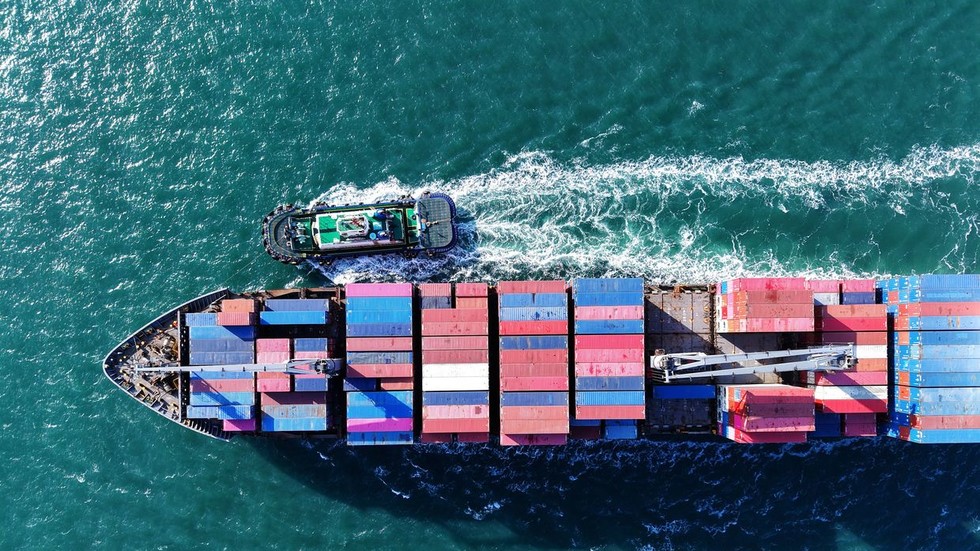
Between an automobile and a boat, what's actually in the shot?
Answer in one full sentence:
Of the two, only a boat appears.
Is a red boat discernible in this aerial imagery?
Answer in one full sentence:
No, I can see no red boat in this picture.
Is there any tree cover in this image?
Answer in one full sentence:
No, no tree cover is visible.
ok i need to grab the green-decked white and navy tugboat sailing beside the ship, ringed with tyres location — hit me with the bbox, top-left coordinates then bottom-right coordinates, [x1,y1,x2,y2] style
[260,192,457,263]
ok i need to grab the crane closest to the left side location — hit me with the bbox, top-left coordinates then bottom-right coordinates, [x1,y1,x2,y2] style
[131,349,346,377]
